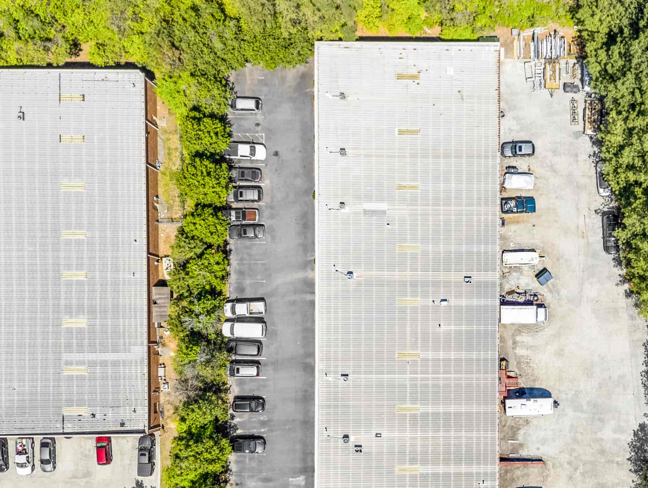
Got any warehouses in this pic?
Yes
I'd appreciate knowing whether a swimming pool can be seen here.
No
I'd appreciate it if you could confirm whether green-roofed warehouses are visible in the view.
No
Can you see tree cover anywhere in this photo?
Yes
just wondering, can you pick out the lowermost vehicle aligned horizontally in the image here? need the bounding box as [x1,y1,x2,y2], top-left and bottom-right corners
[230,438,268,455]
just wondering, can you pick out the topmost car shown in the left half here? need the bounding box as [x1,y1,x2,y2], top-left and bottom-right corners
[227,96,263,114]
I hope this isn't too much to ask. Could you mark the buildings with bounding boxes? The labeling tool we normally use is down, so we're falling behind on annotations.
[315,40,502,488]
[0,66,161,435]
